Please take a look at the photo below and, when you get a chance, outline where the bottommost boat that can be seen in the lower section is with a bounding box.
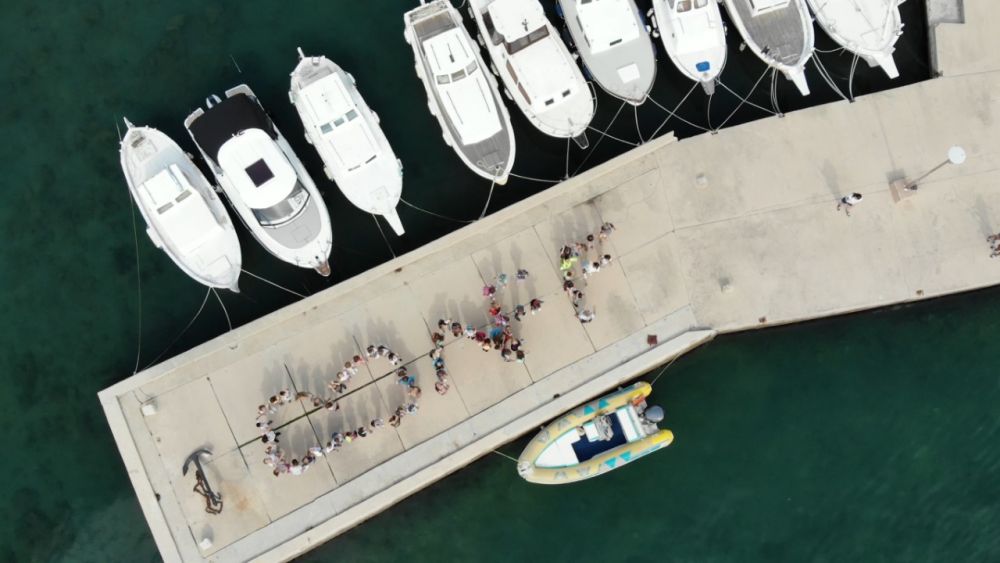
[519,386,670,484]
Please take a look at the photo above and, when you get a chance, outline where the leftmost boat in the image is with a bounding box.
[119,119,240,296]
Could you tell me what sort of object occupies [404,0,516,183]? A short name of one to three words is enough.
boat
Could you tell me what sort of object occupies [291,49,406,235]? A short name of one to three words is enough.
boat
